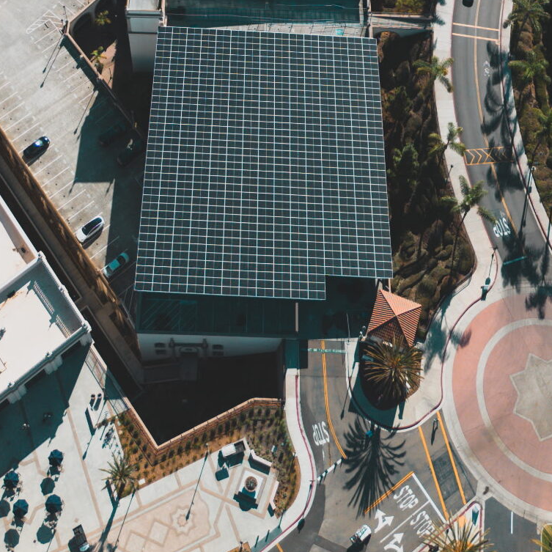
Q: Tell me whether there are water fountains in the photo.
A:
Yes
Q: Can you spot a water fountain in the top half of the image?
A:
No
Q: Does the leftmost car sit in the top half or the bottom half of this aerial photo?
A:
top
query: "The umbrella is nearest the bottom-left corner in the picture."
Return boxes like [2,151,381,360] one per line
[12,500,29,518]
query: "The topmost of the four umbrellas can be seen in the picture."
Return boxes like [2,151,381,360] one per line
[48,449,64,466]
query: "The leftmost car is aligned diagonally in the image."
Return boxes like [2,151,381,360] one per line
[22,136,49,158]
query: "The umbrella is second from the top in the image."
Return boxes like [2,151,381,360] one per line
[2,471,20,489]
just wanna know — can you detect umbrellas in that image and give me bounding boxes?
[48,449,64,466]
[12,500,29,518]
[45,494,63,514]
[2,471,20,489]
